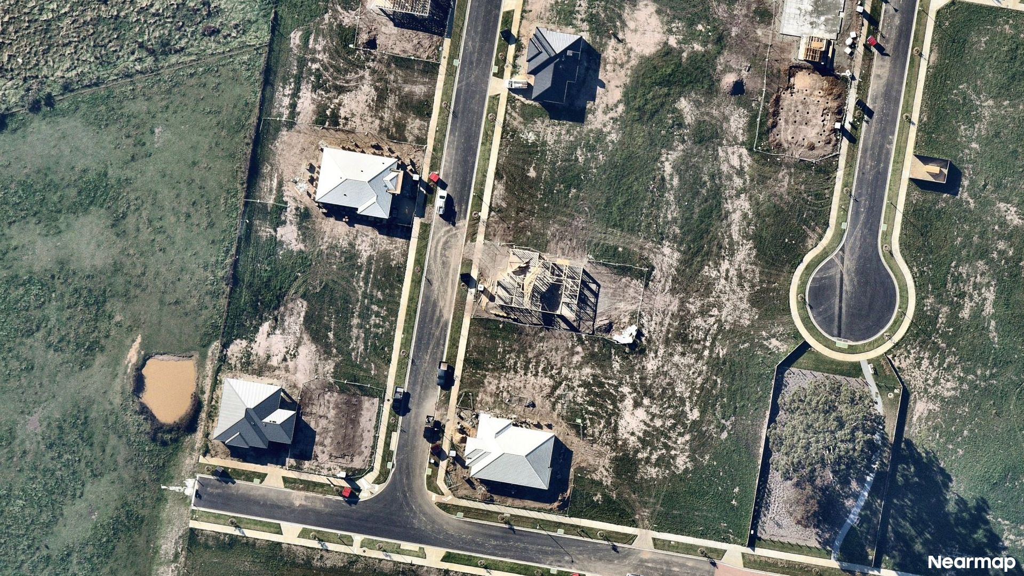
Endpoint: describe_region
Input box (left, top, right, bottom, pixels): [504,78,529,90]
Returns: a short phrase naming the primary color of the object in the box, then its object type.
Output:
white vehicle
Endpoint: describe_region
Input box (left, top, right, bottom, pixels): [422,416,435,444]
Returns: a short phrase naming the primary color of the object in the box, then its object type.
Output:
black vehicle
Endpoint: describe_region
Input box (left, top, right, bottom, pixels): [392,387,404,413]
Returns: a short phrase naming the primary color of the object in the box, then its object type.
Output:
black vehicle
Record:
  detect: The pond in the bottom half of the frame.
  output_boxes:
[140,355,198,424]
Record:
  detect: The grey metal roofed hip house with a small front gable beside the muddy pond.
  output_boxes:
[214,378,296,449]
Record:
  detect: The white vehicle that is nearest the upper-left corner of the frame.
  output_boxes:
[434,189,447,216]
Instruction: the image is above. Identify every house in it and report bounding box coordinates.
[369,0,431,16]
[315,147,403,218]
[464,412,555,490]
[526,27,582,104]
[214,378,296,449]
[495,249,583,318]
